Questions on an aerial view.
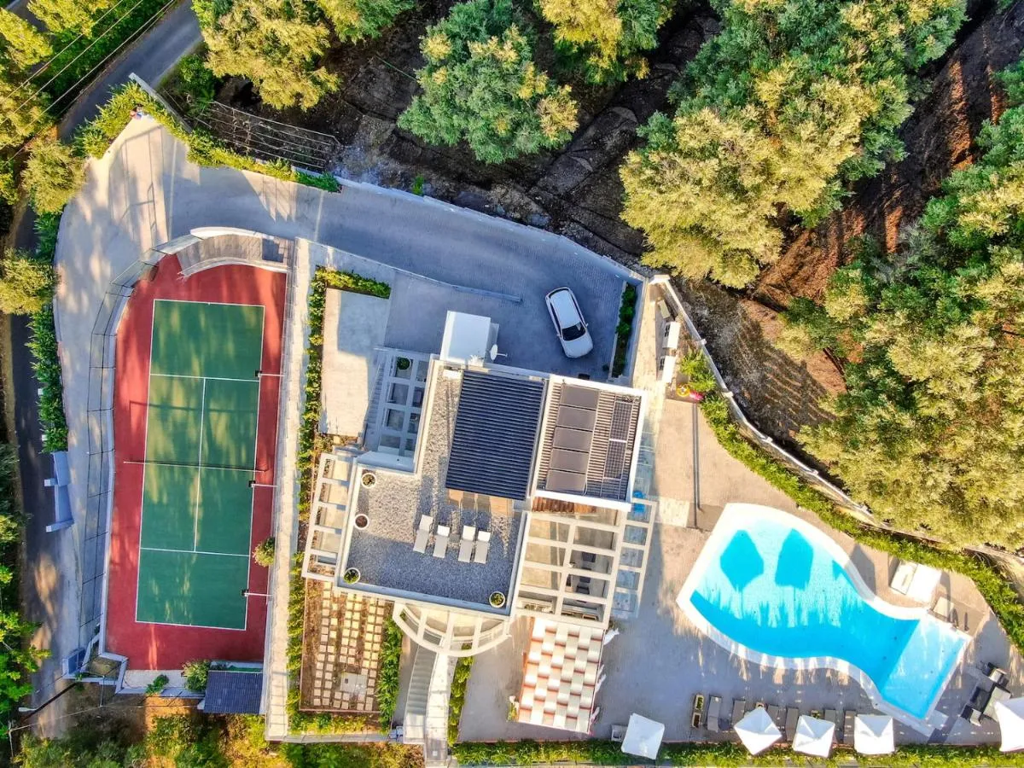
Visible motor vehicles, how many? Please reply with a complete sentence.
There is 1 motor vehicle in the image.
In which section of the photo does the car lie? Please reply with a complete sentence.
You can find the car in the center area of the picture.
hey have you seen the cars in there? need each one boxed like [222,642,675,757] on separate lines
[548,286,591,358]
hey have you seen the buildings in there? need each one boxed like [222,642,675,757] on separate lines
[203,657,270,715]
[301,311,658,657]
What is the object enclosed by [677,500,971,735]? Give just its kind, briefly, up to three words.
swimming pool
